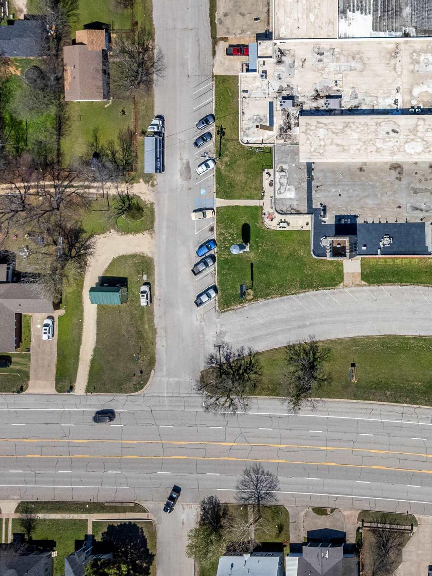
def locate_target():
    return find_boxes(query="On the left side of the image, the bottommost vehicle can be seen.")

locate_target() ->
[164,485,181,511]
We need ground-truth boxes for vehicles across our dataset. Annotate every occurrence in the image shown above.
[144,117,163,173]
[193,133,214,149]
[42,319,55,340]
[191,256,216,275]
[196,159,216,175]
[140,284,151,304]
[164,485,181,511]
[93,412,115,423]
[192,209,214,219]
[194,240,219,257]
[0,358,11,367]
[193,286,218,307]
[196,115,216,131]
[225,44,249,56]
